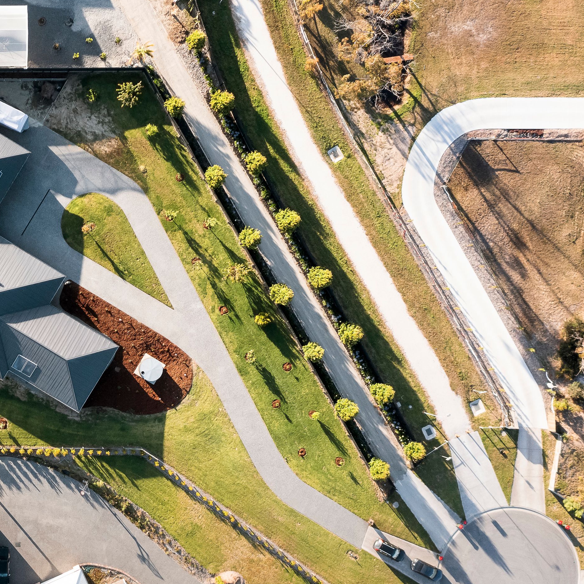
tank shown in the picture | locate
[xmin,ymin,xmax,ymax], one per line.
[134,353,165,385]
